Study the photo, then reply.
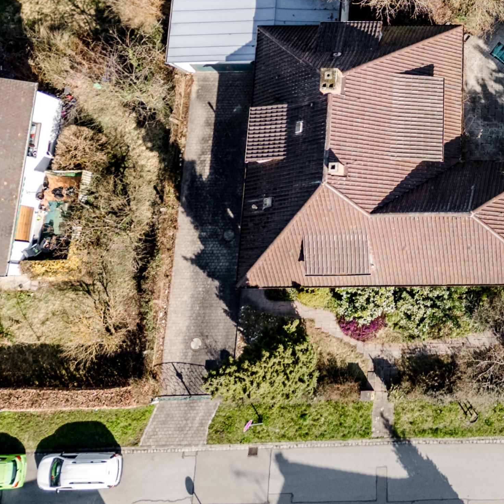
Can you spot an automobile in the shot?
Yes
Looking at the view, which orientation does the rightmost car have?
horizontally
